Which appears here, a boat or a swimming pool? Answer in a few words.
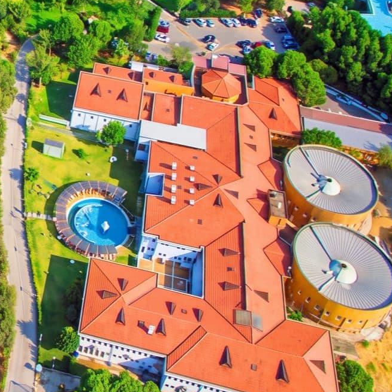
swimming pool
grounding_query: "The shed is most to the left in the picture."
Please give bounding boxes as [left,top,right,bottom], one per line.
[42,138,65,165]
